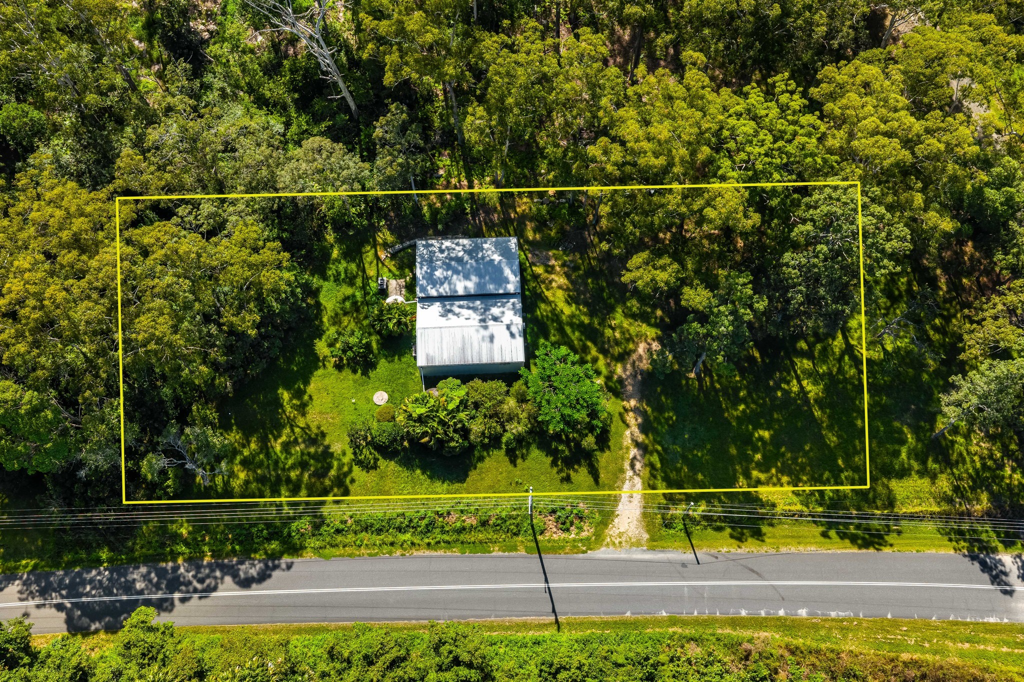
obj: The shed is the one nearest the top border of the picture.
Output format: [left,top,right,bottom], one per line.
[416,236,520,299]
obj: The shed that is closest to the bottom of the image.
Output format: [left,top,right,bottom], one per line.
[416,293,526,391]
